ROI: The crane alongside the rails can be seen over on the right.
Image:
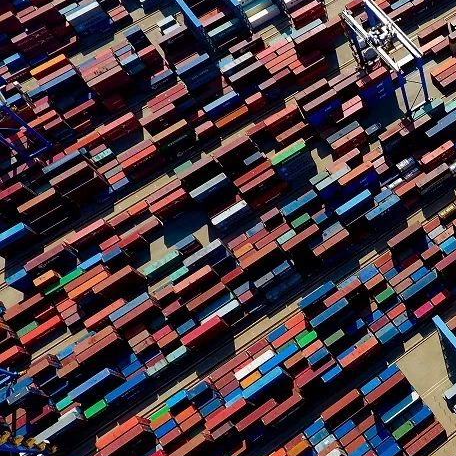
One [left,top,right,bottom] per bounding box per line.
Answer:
[343,0,433,119]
